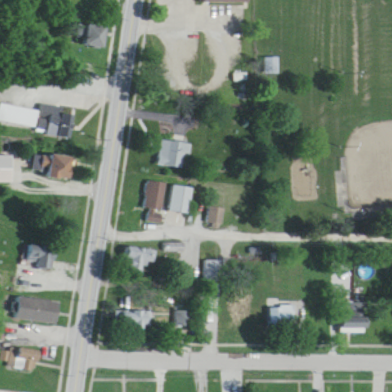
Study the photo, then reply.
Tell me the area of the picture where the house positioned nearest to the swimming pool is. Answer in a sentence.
You can find the house positioned nearest to the swimming pool in the bottom right area of the picture.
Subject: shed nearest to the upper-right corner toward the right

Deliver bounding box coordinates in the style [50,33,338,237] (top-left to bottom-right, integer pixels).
[261,56,280,76]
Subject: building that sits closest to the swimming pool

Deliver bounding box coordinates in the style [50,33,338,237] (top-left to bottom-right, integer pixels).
[337,302,372,334]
